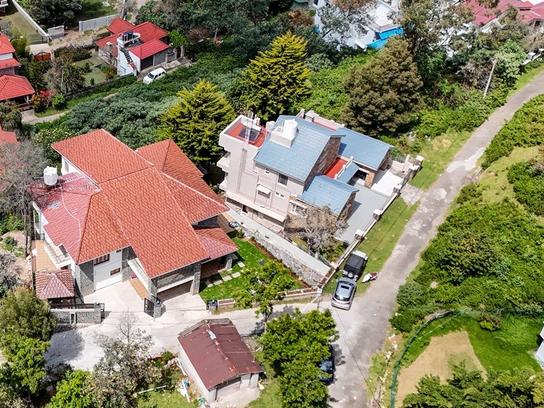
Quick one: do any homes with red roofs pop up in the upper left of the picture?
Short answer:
Yes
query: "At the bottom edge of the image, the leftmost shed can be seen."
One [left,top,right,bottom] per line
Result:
[176,320,266,408]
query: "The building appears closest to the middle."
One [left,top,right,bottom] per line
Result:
[214,113,416,268]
